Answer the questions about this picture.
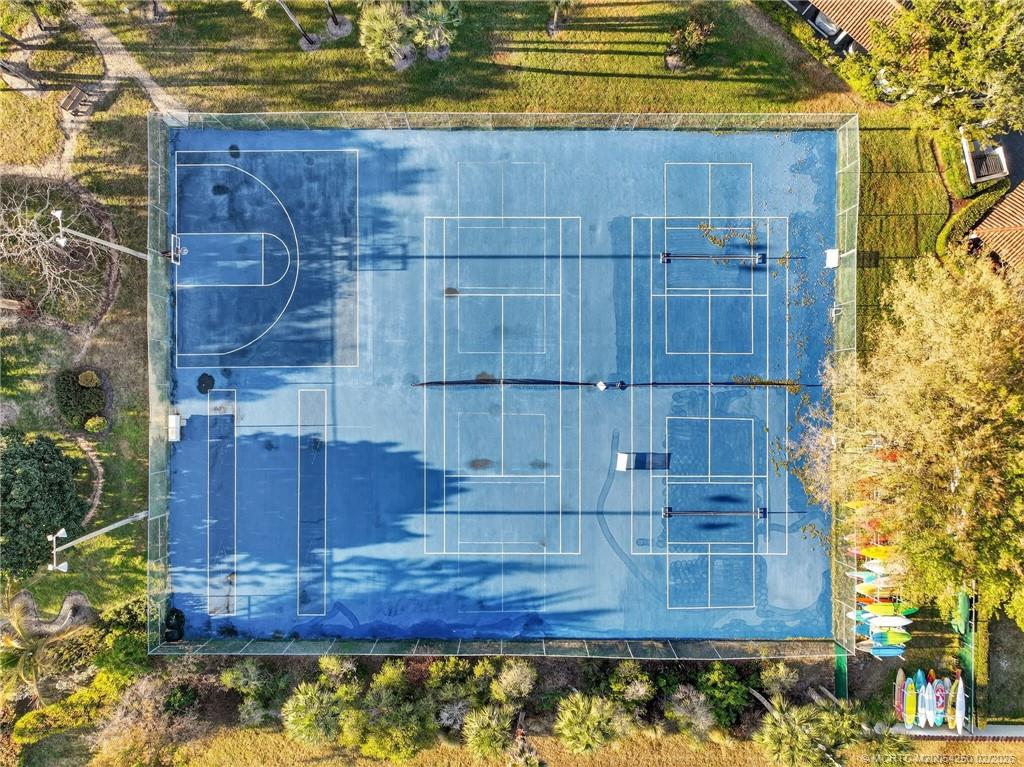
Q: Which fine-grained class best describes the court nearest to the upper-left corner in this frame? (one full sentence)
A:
Looking closely, the court nearest to the upper-left corner is a basketball court.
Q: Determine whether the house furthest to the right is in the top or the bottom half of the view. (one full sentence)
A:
It is in the top half that the house furthest to the right appears.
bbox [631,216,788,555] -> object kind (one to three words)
tennis court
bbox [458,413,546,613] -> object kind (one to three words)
sports court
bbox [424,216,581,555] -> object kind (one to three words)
tennis court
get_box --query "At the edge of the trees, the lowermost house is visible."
[970,182,1024,289]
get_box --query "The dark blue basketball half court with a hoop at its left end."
[176,149,359,368]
